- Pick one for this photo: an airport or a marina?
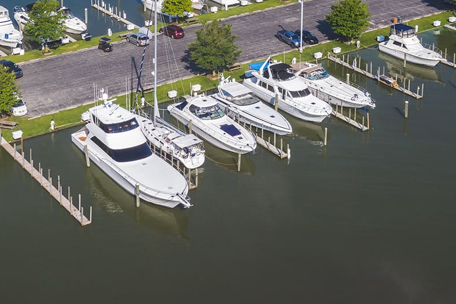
marina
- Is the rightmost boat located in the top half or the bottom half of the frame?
top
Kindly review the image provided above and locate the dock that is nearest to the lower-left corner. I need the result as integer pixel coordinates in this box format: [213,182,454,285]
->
[0,124,93,229]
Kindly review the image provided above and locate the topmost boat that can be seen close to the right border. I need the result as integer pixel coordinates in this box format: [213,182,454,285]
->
[374,25,444,69]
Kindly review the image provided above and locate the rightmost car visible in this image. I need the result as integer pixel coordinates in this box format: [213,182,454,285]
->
[294,27,322,42]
